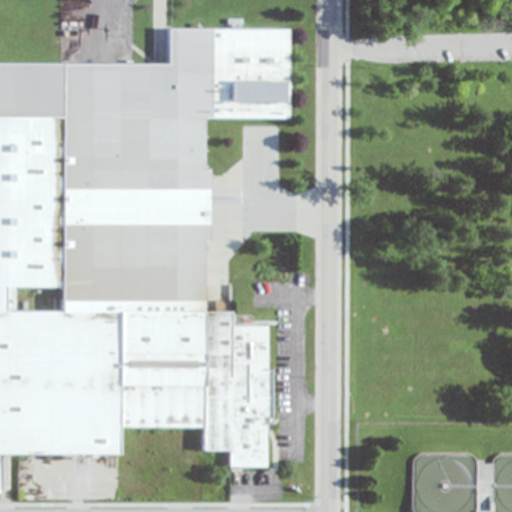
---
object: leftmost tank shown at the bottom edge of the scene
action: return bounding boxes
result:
[412,453,476,512]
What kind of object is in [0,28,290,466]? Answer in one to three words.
building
